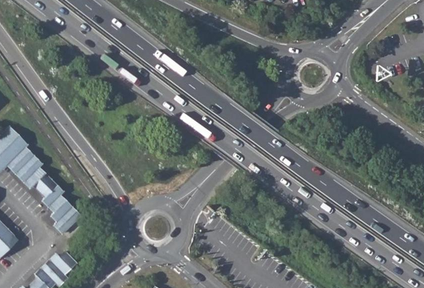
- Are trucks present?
Yes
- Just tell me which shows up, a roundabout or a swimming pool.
roundabout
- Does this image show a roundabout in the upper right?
Yes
